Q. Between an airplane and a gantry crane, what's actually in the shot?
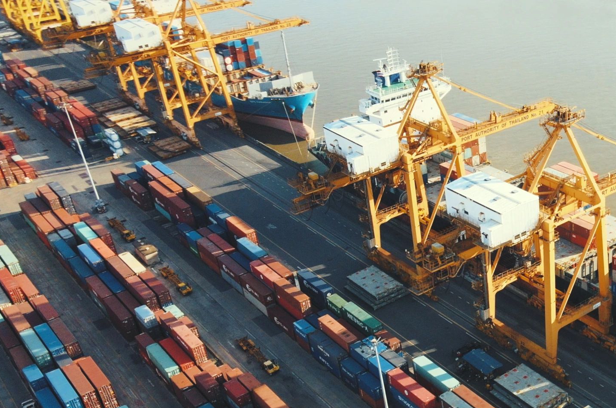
gantry crane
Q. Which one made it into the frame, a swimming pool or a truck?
truck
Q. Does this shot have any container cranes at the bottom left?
No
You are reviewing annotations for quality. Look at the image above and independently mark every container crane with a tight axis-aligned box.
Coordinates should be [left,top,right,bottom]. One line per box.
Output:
[16,0,78,47]
[399,111,616,390]
[43,0,261,121]
[275,60,576,296]
[80,0,325,151]
[0,0,56,32]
